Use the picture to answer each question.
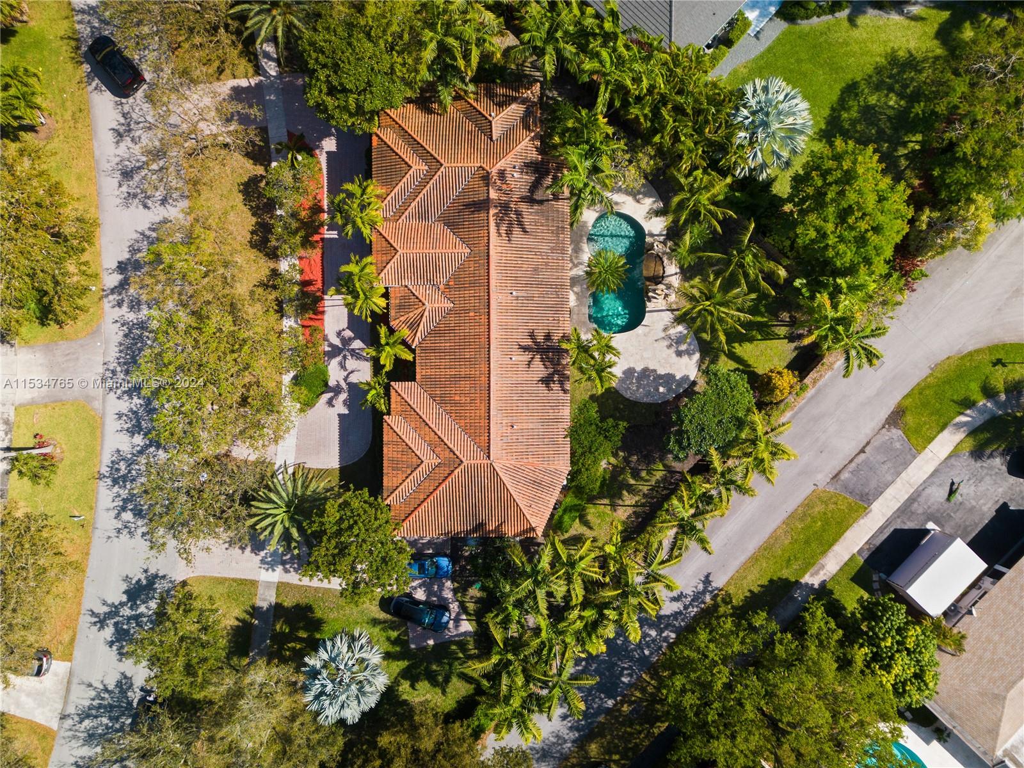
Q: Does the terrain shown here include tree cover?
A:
Yes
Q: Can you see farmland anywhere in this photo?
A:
No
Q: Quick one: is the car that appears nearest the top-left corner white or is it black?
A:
black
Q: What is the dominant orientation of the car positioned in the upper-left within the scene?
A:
diagonally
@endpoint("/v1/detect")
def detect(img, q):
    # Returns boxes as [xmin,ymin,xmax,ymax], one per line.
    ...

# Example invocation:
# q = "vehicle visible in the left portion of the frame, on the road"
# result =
[90,35,146,102]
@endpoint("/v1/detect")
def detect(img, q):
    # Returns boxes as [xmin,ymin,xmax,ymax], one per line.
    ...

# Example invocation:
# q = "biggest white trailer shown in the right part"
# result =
[888,524,988,618]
